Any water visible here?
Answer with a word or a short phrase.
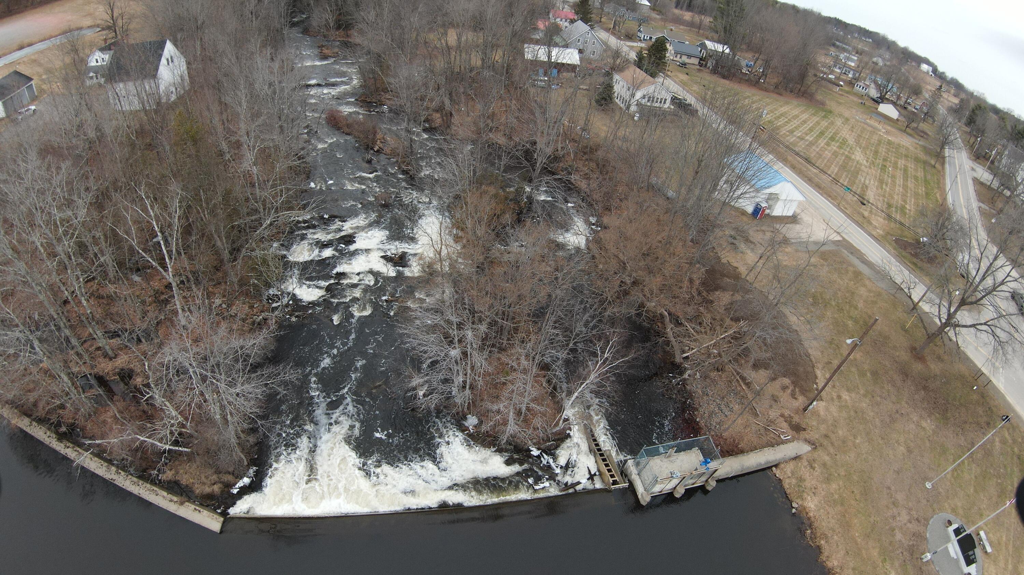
Yes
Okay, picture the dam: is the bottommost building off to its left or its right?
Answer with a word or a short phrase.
to the right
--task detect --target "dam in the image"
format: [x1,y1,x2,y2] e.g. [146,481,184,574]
[229,489,602,517]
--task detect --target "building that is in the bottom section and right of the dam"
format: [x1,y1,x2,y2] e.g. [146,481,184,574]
[635,446,722,499]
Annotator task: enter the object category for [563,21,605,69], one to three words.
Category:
house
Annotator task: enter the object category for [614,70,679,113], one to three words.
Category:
house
